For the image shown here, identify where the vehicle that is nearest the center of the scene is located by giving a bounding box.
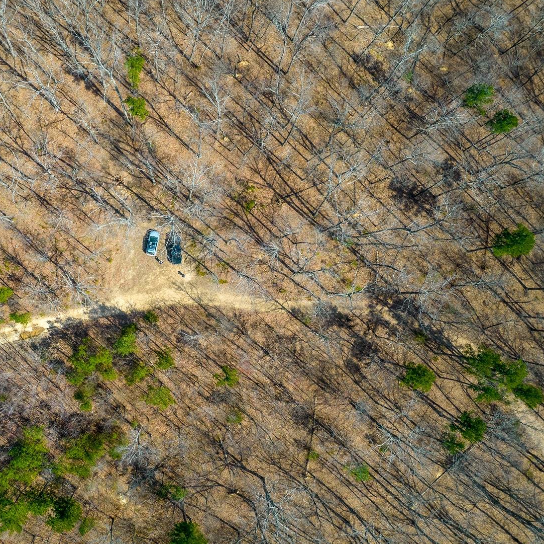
[169,232,184,265]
